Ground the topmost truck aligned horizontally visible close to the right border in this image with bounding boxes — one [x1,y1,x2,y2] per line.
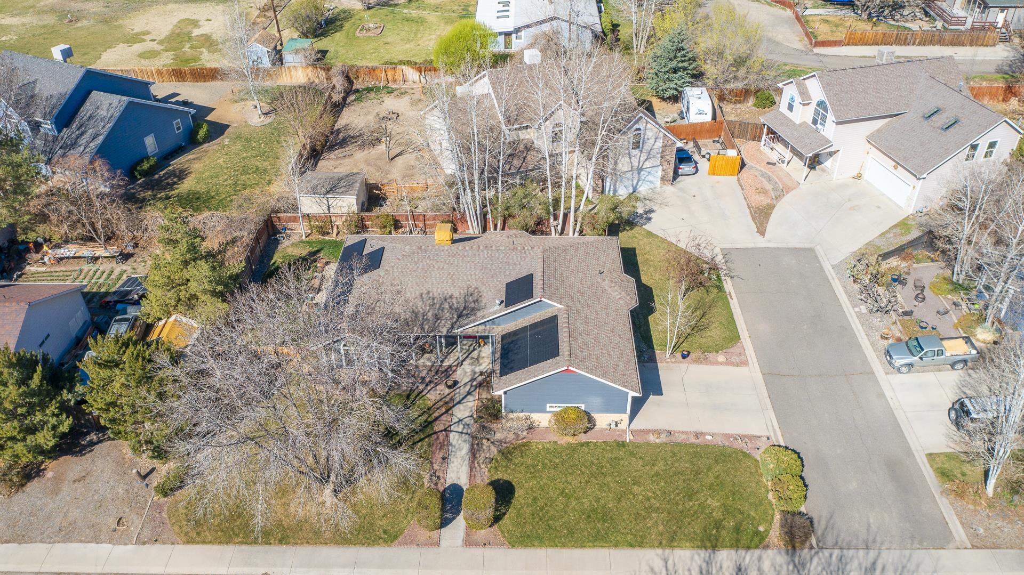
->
[874,331,984,375]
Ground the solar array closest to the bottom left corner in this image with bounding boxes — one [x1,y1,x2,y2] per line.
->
[98,275,153,320]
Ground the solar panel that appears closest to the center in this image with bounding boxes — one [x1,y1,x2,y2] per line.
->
[503,269,533,306]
